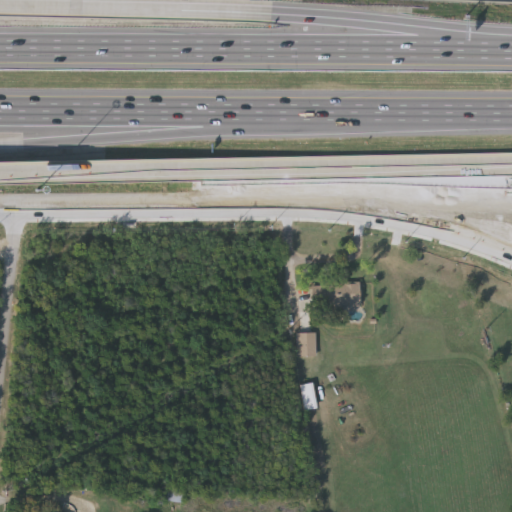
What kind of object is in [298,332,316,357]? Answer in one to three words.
barn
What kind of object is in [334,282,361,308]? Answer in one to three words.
house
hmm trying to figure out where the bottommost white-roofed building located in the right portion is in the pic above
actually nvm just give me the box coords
[300,382,318,410]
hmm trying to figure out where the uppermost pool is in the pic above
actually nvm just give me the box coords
[350,308,366,323]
